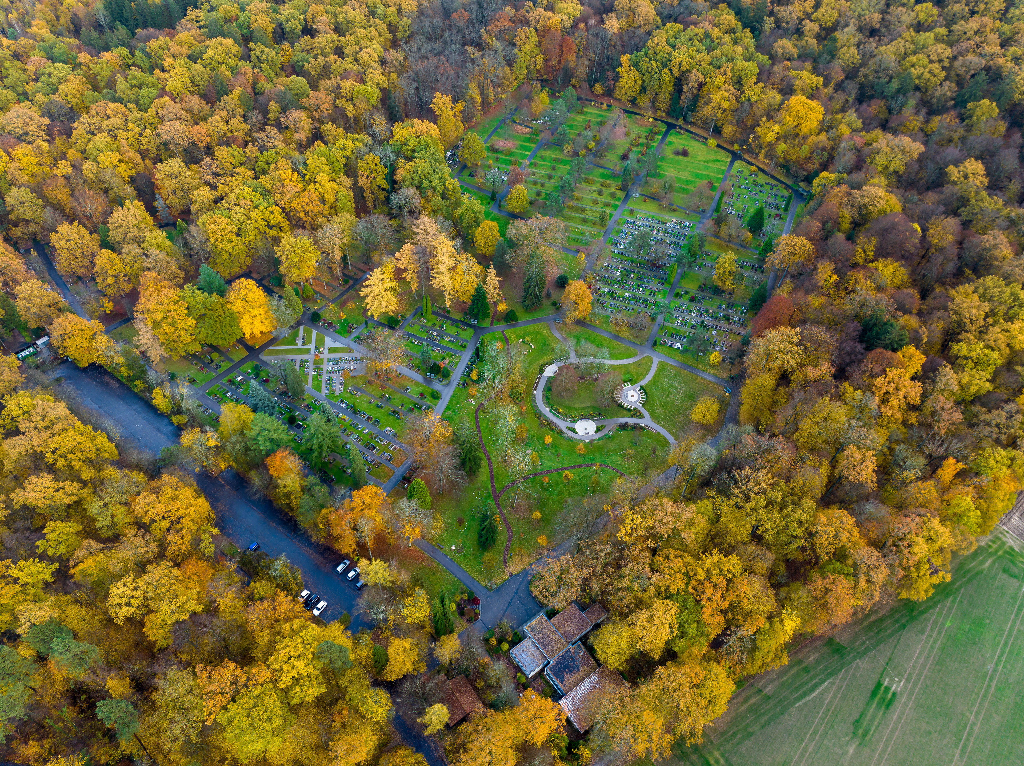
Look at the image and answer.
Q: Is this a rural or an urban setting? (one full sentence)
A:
It looks rural.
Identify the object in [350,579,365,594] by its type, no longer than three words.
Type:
car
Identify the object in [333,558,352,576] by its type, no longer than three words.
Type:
car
